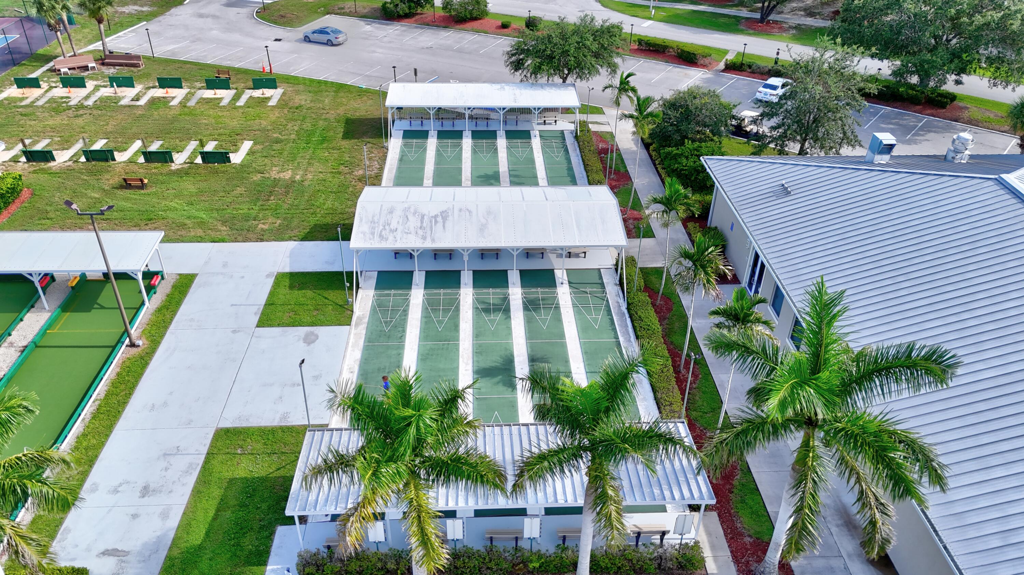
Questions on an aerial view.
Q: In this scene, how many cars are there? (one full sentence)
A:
In total, there are 2 cars in the scene.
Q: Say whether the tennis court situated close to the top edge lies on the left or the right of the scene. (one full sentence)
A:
It is on the left.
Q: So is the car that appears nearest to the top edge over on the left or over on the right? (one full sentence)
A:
The car that appears nearest to the top edge sits on the left side.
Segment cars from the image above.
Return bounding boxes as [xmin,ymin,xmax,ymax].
[760,78,800,104]
[299,25,348,46]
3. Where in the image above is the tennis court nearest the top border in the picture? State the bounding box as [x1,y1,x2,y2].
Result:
[0,17,80,75]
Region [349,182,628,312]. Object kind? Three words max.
building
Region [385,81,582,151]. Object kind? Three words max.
building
